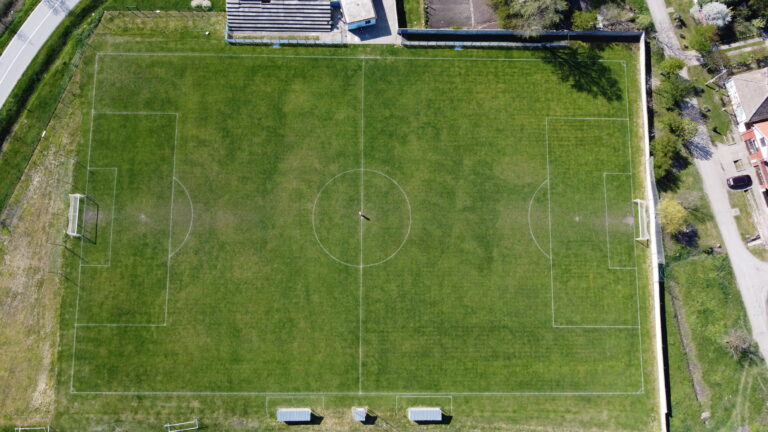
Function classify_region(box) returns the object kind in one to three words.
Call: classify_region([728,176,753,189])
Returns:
vehicle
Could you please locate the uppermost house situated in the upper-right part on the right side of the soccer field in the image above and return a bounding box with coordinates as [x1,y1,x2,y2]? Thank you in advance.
[725,74,768,128]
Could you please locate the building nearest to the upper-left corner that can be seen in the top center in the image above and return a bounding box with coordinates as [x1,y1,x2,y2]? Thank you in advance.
[342,0,377,30]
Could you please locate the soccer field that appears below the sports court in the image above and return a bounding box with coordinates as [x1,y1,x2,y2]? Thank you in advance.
[68,52,645,416]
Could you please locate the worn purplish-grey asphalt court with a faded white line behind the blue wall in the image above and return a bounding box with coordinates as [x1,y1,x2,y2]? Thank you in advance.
[430,0,499,28]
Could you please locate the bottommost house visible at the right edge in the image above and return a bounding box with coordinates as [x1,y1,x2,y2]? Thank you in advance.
[733,122,768,189]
